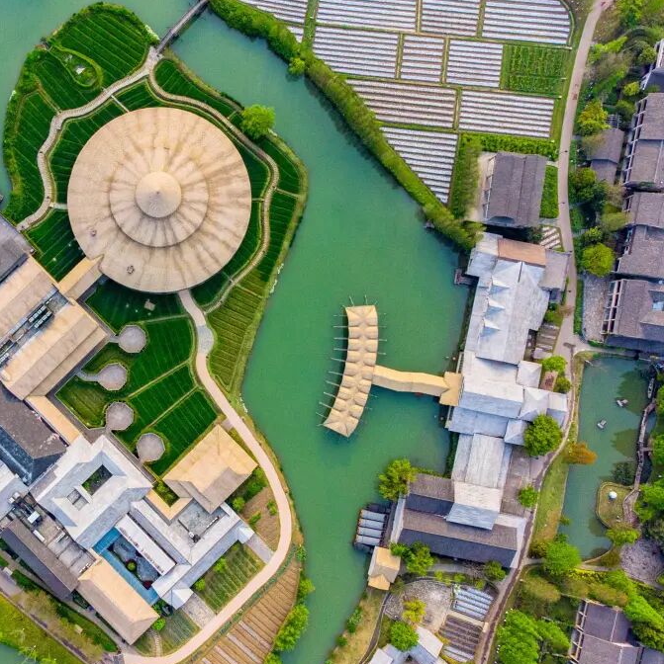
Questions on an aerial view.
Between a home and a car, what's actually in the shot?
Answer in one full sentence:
Visible in the photo is a home.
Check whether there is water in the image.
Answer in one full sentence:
Yes, the picture does contain water.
